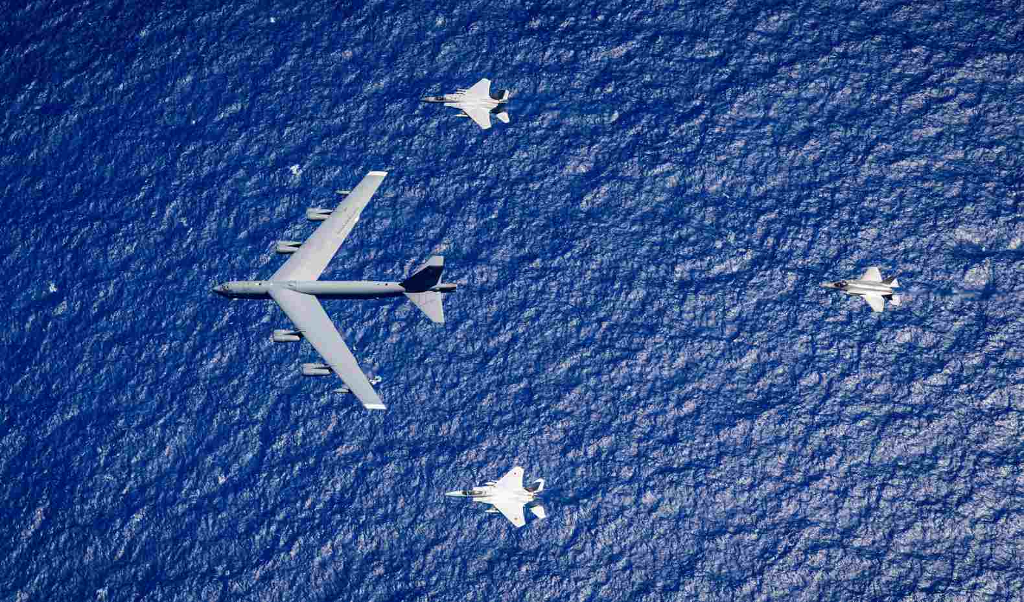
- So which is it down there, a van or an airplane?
airplane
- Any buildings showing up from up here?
No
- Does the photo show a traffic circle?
No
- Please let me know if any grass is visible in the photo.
No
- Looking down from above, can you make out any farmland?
No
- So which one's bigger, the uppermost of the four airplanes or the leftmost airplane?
the leftmost airplane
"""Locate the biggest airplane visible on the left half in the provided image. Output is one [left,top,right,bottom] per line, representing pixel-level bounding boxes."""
[212,171,456,409]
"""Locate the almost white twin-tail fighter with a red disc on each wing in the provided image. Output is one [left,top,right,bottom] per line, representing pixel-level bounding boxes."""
[447,467,547,526]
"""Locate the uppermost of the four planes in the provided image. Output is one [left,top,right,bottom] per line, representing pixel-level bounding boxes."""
[418,79,510,129]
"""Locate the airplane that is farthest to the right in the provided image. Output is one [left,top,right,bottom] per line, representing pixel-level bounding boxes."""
[819,267,901,312]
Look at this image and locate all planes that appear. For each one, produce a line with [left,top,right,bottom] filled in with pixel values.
[212,171,456,409]
[819,267,901,312]
[418,79,510,129]
[447,467,547,526]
